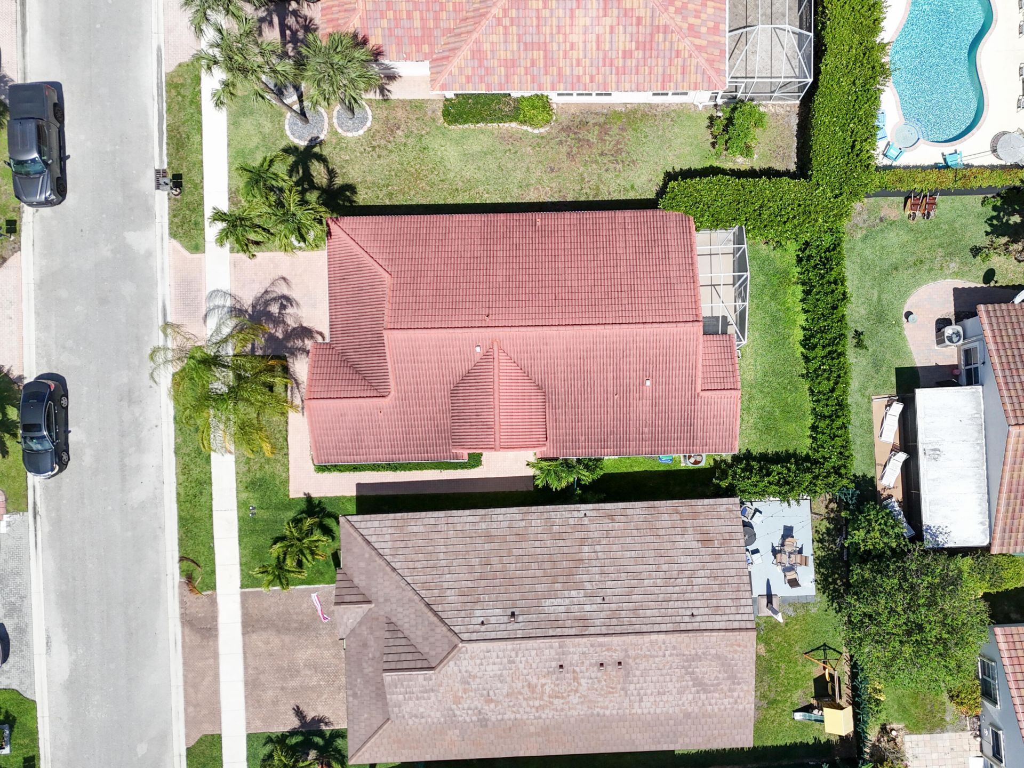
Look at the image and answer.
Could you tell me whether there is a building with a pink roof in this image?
Yes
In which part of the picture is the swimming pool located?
top right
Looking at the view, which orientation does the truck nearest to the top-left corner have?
up and down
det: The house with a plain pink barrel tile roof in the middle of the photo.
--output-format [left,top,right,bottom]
[303,209,743,465]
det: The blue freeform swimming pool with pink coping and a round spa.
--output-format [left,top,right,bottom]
[885,0,1000,152]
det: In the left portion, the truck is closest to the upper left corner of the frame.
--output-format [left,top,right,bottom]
[4,84,67,208]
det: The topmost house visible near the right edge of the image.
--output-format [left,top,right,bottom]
[873,304,1024,555]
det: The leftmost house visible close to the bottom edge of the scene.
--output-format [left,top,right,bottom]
[333,498,757,765]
